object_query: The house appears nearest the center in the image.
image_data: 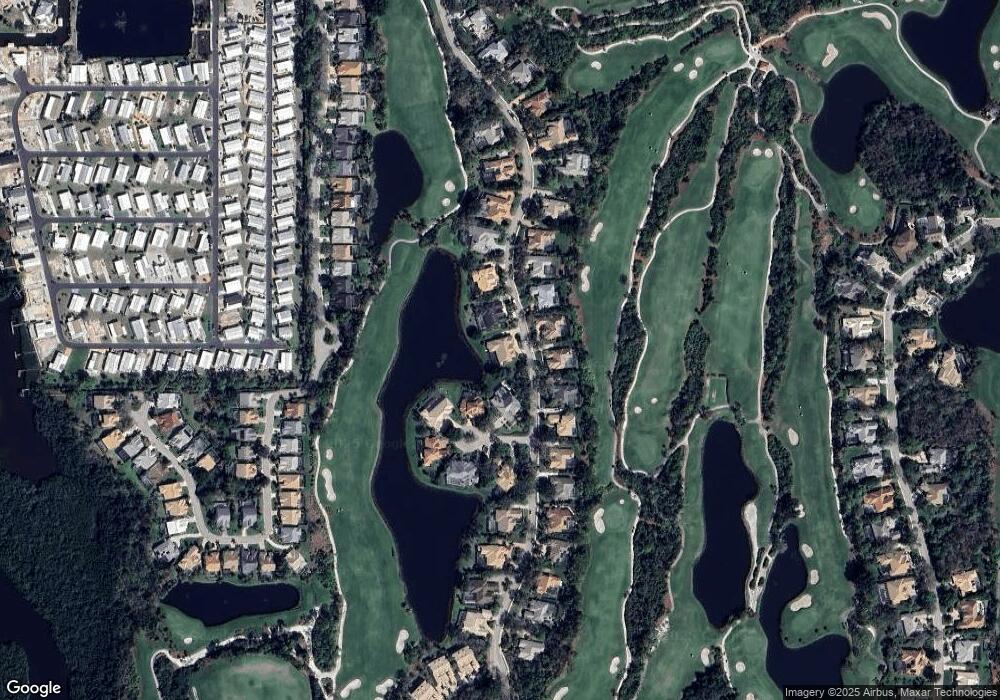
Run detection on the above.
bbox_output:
[481,336,516,361]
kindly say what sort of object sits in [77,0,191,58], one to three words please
pond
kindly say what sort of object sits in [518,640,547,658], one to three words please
house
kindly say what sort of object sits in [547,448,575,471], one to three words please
house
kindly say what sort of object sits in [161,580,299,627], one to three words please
pond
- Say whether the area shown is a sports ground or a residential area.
residential area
